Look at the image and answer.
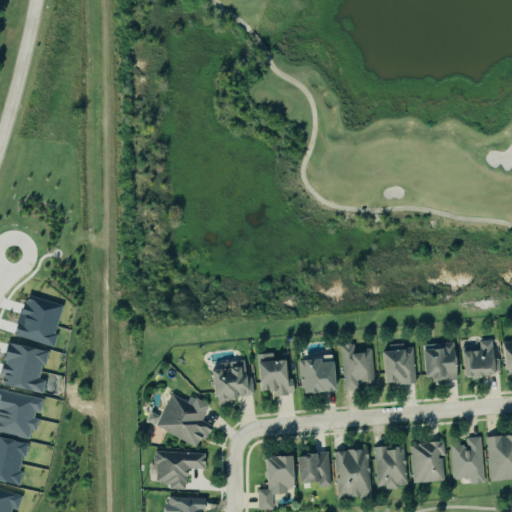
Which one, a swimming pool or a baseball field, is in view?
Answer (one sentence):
Of the two, only a swimming pool appears.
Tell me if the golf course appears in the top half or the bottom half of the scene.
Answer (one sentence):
It is in the top half that the golf course appears.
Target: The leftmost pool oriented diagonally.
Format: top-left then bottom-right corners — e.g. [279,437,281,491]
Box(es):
[143,387,172,415]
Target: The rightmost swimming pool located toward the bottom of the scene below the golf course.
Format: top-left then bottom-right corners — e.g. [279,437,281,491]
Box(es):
[302,342,329,355]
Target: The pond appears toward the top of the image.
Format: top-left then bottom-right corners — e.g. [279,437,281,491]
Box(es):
[339,0,512,82]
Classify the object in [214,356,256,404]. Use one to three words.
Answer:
house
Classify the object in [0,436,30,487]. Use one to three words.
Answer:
house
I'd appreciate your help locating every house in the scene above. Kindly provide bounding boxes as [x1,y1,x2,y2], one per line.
[0,490,24,512]
[164,498,207,512]
[0,388,44,439]
[300,354,338,396]
[342,344,376,392]
[426,340,459,382]
[336,449,373,500]
[14,297,64,352]
[258,352,296,392]
[154,452,206,490]
[262,456,297,510]
[0,344,46,394]
[464,339,503,380]
[214,356,256,404]
[0,436,30,487]
[412,441,446,483]
[384,343,417,384]
[146,394,214,448]
[452,436,486,483]
[488,434,512,482]
[374,446,408,489]
[300,450,334,489]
